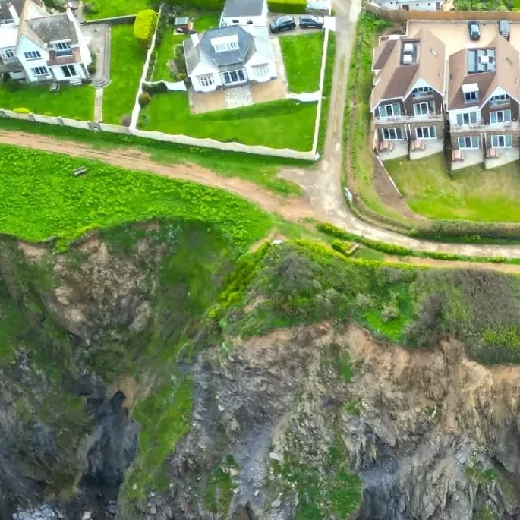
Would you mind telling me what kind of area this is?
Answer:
residential area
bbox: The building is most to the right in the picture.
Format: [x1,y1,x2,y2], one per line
[445,34,520,154]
